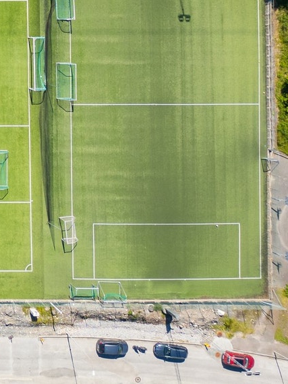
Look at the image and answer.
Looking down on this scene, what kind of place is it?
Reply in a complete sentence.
This image shows a sports ground.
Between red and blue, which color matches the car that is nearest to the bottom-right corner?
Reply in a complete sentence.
The car that is nearest to the bottom-right corner looks red in the image.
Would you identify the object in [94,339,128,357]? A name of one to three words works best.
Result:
car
